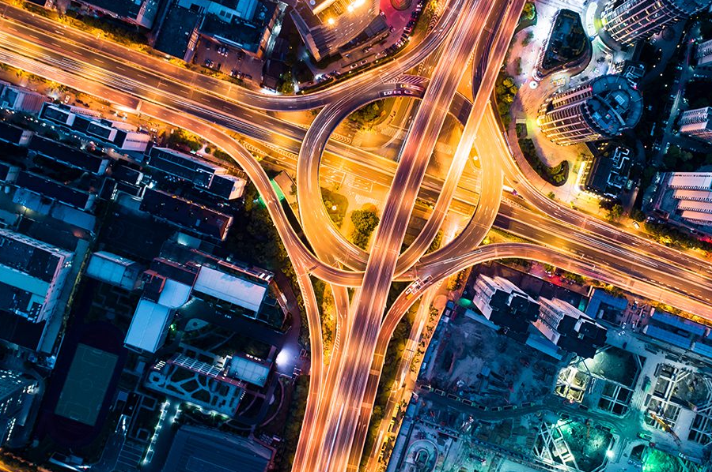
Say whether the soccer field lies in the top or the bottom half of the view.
bottom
